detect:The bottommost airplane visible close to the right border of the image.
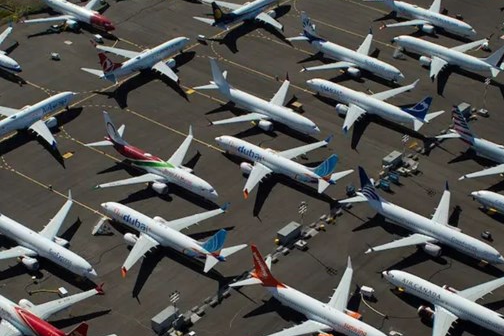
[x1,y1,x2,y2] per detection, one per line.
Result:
[384,270,504,336]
